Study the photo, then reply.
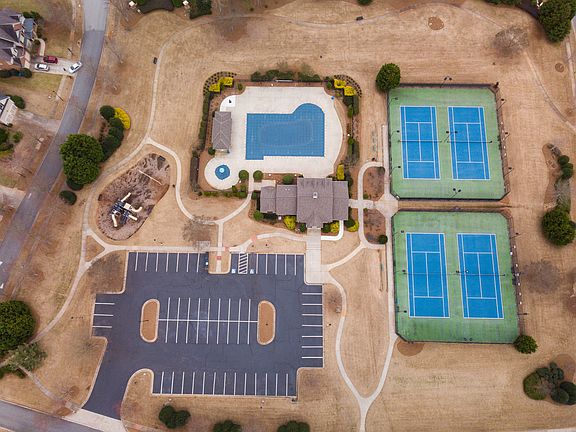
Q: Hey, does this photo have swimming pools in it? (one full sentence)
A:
Yes, a swimming pool can be made out from above.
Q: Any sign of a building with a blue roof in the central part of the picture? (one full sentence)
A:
No, there is no building with a blue roof in the central part of the picture.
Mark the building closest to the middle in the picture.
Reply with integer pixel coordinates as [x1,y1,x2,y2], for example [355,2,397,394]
[259,178,349,228]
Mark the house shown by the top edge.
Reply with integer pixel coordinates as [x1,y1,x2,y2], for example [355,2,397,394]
[0,2,38,69]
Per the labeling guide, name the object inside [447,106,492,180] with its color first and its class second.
blue tennis court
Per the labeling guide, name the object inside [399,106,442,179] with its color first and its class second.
blue tennis court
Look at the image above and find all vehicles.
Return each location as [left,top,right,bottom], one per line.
[43,55,58,63]
[34,63,49,70]
[67,61,83,73]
